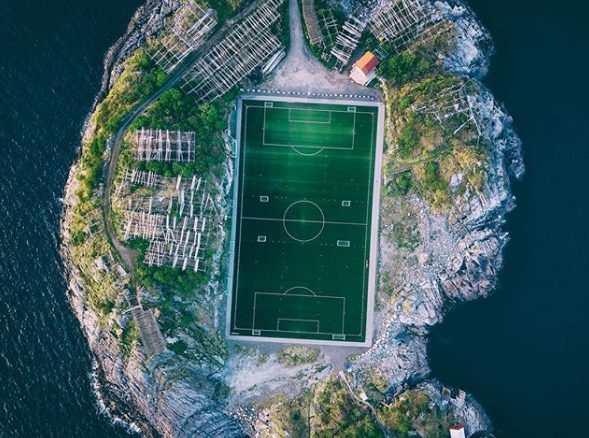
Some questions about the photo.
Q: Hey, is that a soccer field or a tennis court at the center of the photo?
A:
soccer field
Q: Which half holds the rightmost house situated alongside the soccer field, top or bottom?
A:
top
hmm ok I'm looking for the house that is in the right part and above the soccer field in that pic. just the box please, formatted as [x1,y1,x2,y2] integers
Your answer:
[349,53,378,87]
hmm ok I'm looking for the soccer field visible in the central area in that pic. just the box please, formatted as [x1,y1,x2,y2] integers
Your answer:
[225,95,383,347]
